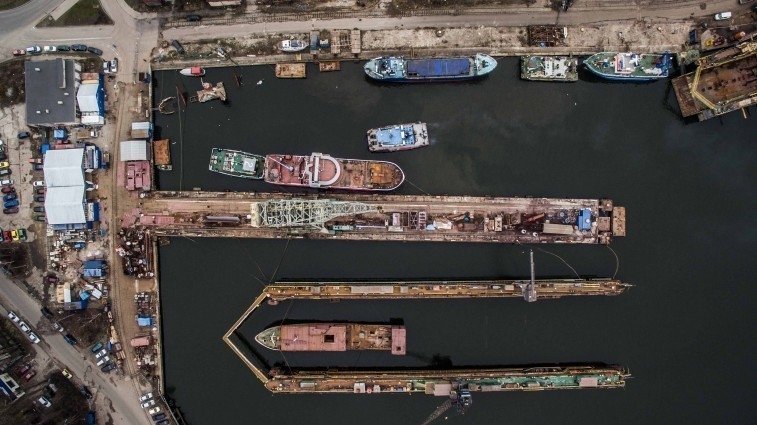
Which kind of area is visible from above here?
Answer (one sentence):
What you see here is a port.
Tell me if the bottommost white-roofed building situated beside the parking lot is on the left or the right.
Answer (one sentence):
You can find the bottommost white-roofed building situated beside the parking lot on the left side of the picture.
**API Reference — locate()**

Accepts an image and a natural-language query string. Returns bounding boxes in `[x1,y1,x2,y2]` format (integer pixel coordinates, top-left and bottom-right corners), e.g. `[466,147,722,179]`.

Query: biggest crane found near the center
[251,193,387,232]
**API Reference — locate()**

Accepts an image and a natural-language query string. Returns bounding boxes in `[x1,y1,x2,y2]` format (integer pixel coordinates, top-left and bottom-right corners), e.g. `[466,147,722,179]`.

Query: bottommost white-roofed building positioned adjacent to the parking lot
[42,149,94,224]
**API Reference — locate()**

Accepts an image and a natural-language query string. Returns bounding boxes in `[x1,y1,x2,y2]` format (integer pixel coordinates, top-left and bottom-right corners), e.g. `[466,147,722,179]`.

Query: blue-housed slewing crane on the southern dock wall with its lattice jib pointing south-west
[417,384,475,425]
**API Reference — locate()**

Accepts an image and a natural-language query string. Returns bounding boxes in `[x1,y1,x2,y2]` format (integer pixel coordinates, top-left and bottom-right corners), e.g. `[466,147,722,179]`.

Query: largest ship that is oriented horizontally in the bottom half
[256,322,407,355]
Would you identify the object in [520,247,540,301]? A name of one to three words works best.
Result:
crane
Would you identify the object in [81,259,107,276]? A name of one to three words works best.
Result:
house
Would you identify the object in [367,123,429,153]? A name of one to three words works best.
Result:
ship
